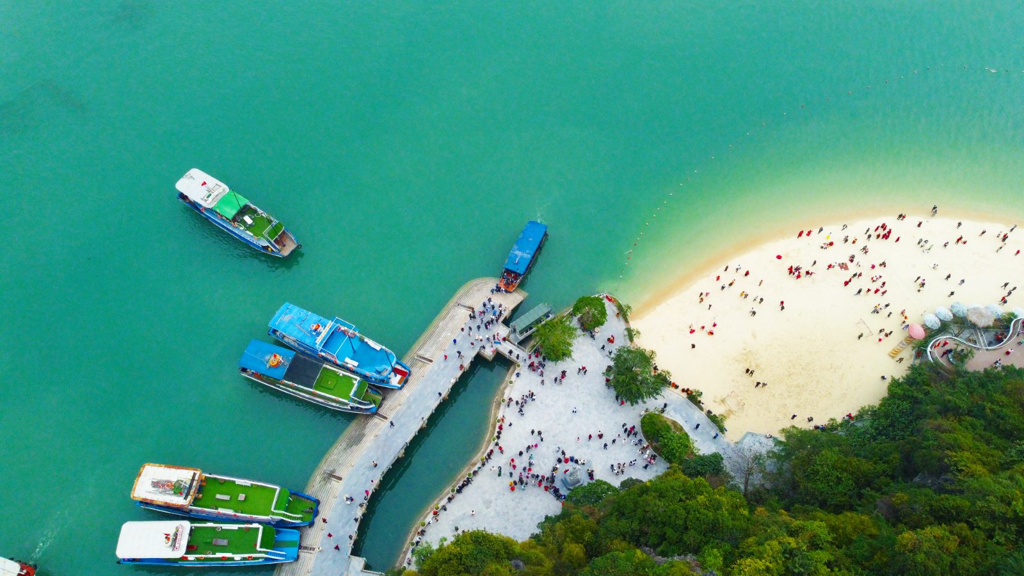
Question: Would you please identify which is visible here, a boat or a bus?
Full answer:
I can see a boat in this picture.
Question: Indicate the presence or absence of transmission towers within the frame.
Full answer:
No, I find no transmission tower anywhere in the image.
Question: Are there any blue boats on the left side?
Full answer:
Yes, a blue boat shows up on the left side.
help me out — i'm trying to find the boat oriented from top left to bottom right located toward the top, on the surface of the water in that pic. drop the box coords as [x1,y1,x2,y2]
[174,170,299,260]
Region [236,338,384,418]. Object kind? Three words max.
boat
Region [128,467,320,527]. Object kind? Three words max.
boat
